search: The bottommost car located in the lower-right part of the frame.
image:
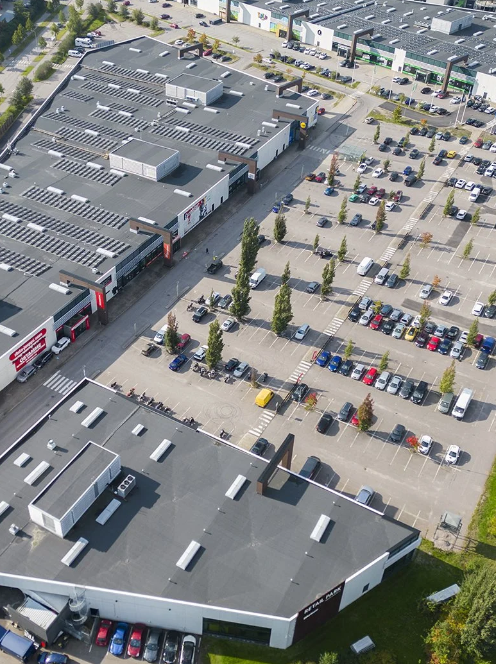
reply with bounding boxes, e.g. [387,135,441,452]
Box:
[357,485,375,507]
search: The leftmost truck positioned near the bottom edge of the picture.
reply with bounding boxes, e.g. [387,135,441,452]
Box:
[0,627,41,664]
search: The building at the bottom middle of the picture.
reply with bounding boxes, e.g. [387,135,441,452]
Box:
[0,380,425,650]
